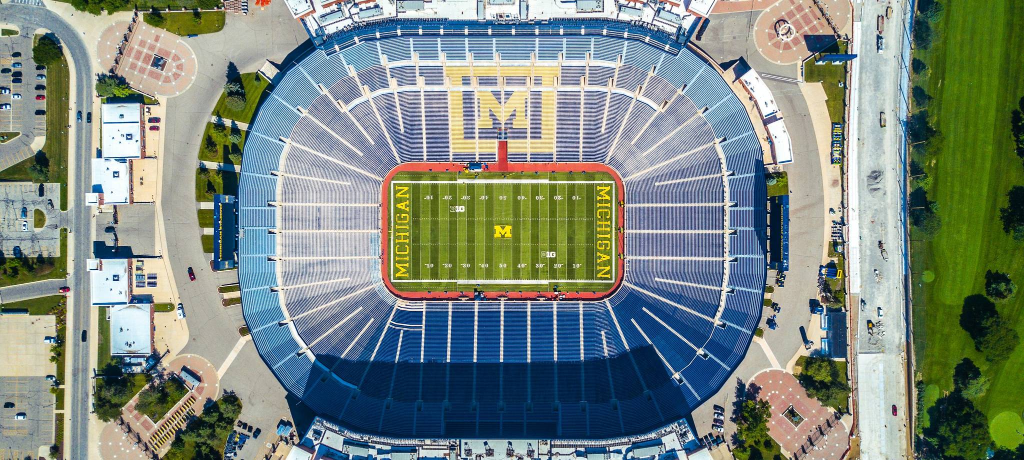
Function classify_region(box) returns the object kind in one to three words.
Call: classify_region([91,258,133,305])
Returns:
building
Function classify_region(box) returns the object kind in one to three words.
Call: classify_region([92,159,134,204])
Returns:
building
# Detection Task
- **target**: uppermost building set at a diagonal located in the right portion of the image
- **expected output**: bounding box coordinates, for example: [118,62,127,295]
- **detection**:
[737,69,778,120]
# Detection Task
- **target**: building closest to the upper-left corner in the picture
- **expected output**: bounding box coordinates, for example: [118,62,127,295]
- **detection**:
[102,104,145,159]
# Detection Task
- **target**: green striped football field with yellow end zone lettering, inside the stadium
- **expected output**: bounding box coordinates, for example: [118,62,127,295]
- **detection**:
[388,171,618,292]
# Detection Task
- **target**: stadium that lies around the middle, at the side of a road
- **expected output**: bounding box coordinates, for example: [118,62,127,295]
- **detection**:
[236,38,770,434]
